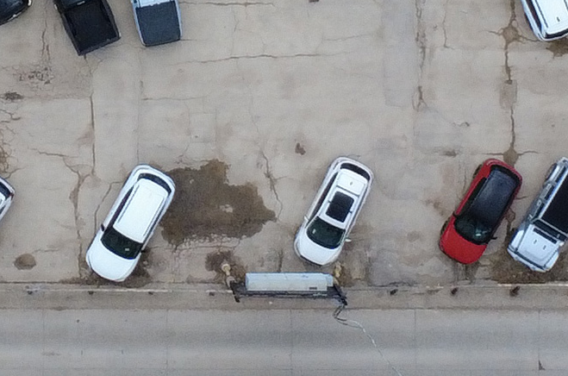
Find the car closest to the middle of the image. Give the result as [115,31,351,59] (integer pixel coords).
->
[294,155,372,266]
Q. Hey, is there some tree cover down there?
No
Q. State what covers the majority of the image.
paved ground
